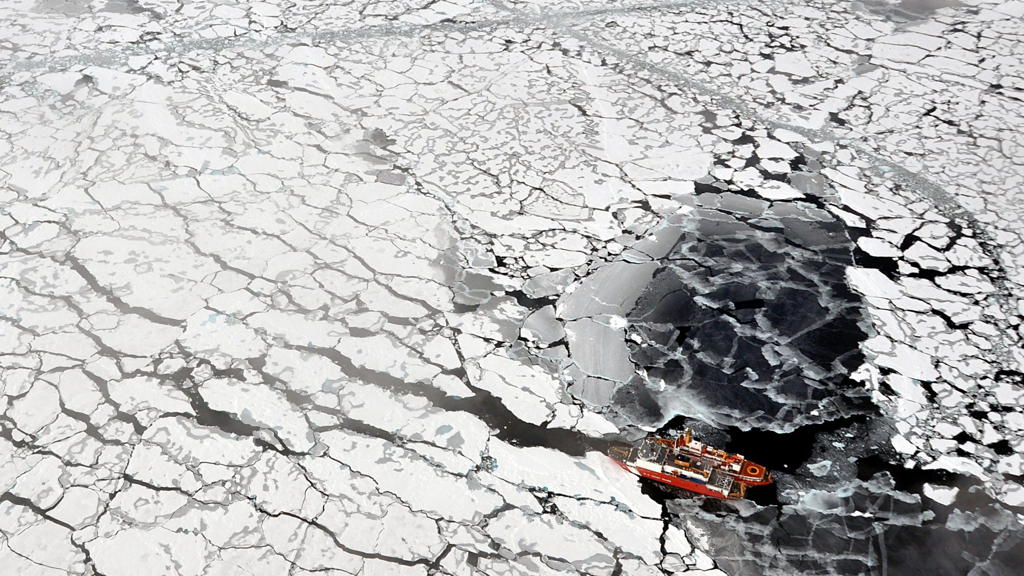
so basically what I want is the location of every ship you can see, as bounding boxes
[609,441,747,502]
[642,427,774,486]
